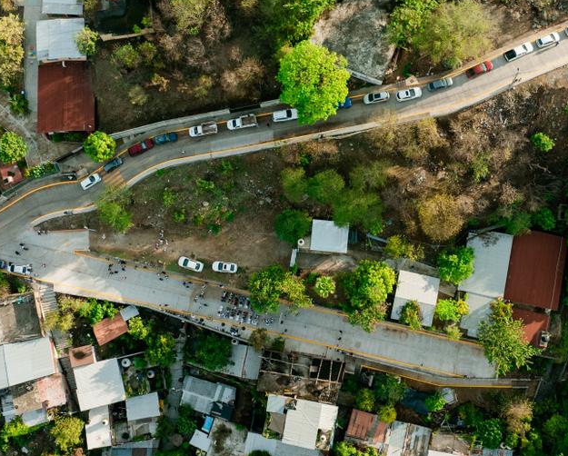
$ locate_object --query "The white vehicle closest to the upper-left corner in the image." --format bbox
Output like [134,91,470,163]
[77,172,102,192]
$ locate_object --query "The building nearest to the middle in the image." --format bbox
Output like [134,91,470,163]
[311,220,348,252]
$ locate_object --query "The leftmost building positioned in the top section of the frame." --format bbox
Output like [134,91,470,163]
[0,164,26,184]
